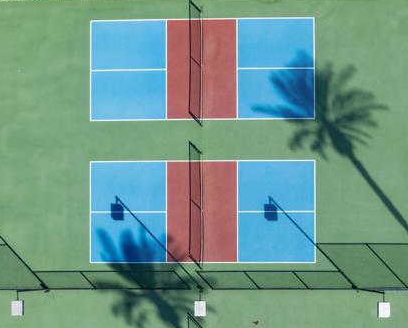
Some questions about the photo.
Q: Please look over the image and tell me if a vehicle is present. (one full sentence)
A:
No, this view has no vehicle in it.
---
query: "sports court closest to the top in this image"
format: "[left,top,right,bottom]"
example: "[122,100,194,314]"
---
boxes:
[90,17,315,121]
